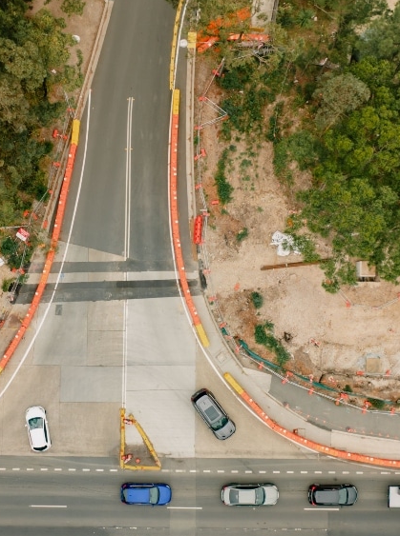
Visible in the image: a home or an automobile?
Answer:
automobile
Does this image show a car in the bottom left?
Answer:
Yes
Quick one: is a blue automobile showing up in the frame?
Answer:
Yes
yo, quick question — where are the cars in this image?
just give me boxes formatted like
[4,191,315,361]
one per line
[221,481,277,509]
[191,386,234,442]
[24,405,51,454]
[121,481,172,509]
[307,482,357,509]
